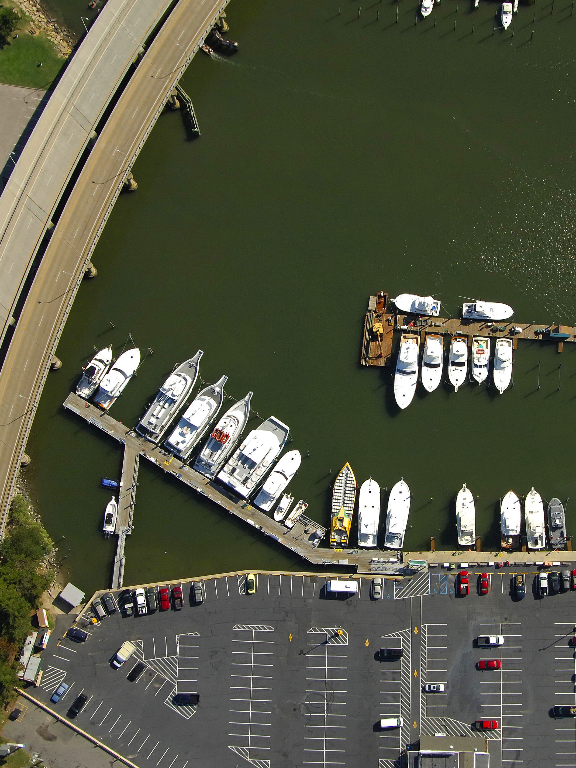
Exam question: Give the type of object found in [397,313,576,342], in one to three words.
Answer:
pier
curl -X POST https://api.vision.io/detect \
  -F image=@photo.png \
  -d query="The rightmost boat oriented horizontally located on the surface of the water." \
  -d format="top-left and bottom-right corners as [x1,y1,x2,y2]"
[461,298,513,319]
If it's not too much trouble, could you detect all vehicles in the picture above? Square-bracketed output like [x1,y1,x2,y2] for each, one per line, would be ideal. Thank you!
[539,573,549,596]
[515,575,524,599]
[172,695,199,704]
[68,695,87,717]
[127,661,145,681]
[476,721,498,730]
[478,661,501,670]
[561,571,572,590]
[160,588,170,610]
[426,684,444,693]
[93,599,108,619]
[172,587,183,609]
[50,681,69,703]
[480,573,488,593]
[123,589,134,615]
[460,571,469,595]
[65,629,89,642]
[102,592,116,611]
[478,635,504,645]
[554,706,576,716]
[146,588,158,611]
[135,588,146,614]
[192,582,204,604]
[380,649,403,659]
[372,579,381,599]
[380,717,404,727]
[550,571,560,592]
[323,580,359,591]
[112,642,134,667]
